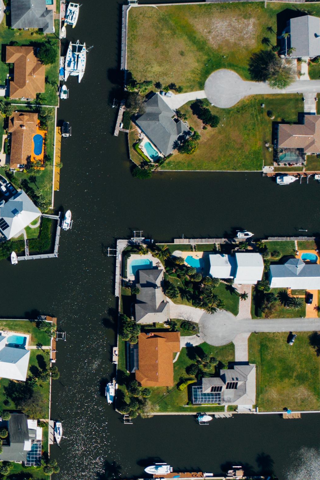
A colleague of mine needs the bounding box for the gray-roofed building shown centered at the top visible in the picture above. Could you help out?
[134,93,189,155]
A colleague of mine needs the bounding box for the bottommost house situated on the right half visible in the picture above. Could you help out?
[199,365,257,405]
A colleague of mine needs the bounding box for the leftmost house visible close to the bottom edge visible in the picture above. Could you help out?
[0,413,43,462]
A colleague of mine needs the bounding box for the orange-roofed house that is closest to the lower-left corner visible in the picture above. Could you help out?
[134,332,181,387]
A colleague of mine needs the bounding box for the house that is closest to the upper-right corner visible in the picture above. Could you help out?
[282,15,320,59]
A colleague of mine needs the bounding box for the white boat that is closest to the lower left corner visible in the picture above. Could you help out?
[53,421,69,444]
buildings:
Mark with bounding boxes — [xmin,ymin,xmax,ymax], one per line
[275,115,320,154]
[0,336,30,379]
[7,112,38,168]
[282,15,320,59]
[199,365,257,405]
[0,413,43,462]
[134,269,172,323]
[134,332,181,387]
[5,46,45,99]
[267,259,320,289]
[9,0,53,35]
[206,253,266,284]
[0,190,44,241]
[134,93,189,155]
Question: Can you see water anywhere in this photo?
Yes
